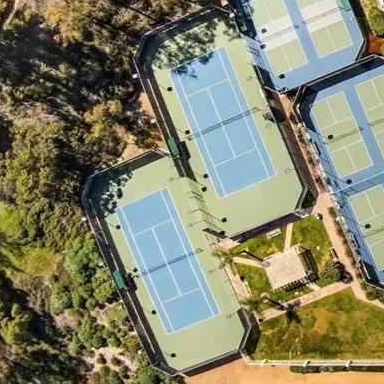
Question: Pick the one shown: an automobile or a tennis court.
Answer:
tennis court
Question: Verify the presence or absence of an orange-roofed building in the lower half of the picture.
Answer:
No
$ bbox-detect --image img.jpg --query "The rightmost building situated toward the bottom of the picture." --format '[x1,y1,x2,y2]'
[261,242,313,291]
